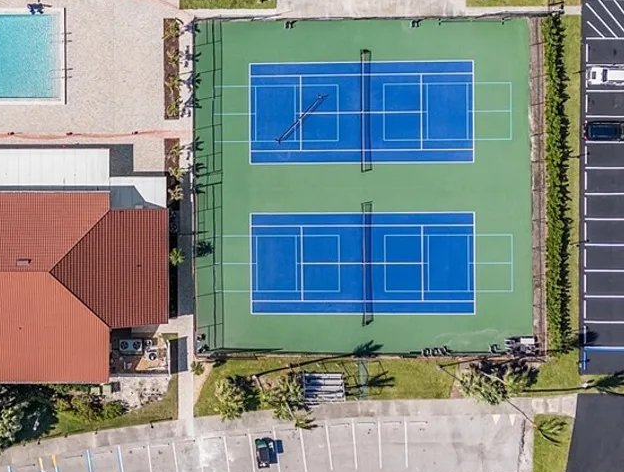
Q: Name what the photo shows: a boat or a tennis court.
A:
tennis court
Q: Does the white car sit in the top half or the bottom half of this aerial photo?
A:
top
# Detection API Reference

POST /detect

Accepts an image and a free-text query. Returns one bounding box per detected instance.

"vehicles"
[584,64,624,86]
[257,438,273,467]
[582,121,624,141]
